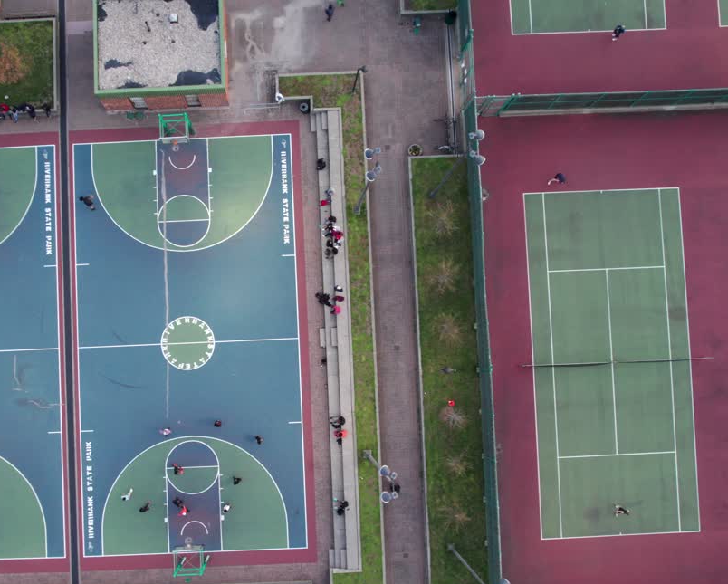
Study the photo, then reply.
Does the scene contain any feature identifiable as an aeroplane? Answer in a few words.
No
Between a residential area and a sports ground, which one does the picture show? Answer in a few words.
sports ground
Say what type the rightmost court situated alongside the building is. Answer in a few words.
basketball court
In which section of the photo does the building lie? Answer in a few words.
top left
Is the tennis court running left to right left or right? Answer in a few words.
right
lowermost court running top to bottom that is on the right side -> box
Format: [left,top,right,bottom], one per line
[523,188,700,540]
